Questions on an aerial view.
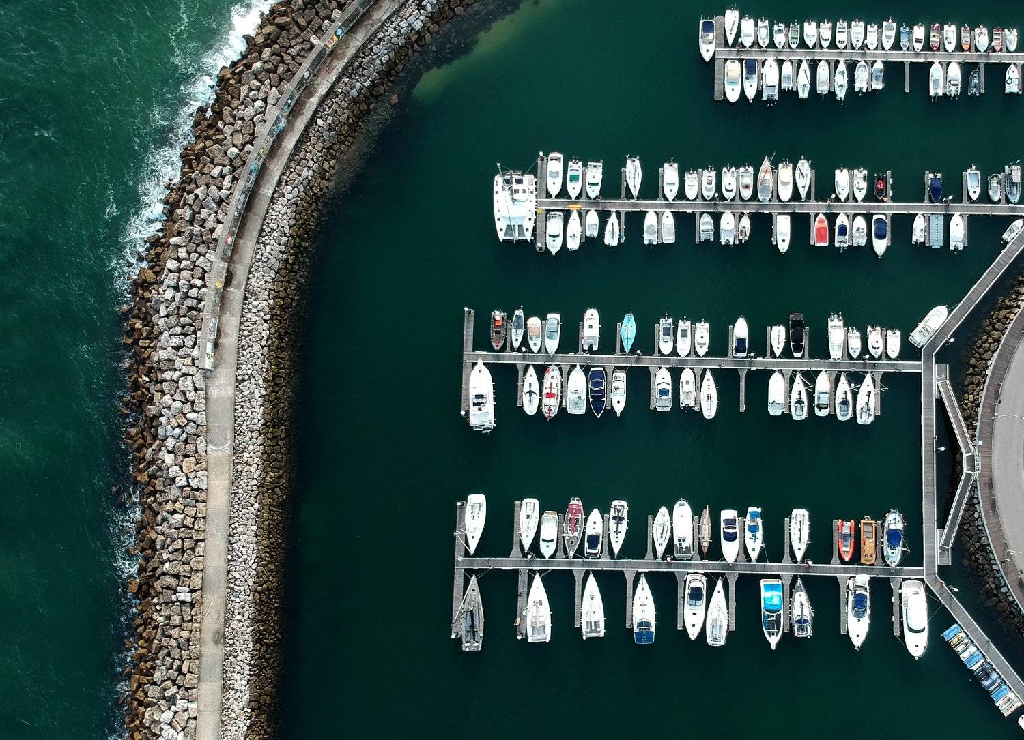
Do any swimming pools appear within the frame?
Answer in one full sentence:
No, no swimming pool is visible in the view.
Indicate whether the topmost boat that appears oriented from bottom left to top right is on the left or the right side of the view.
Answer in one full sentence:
It is on the right.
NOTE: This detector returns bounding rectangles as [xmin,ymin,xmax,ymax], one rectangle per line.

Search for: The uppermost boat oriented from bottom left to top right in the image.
[1000,219,1024,245]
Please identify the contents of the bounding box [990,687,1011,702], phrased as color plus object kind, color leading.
blue boat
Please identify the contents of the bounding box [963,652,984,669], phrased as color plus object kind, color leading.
blue boat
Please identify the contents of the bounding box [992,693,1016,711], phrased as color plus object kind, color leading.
white boat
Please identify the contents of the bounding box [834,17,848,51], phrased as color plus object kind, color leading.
white boat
